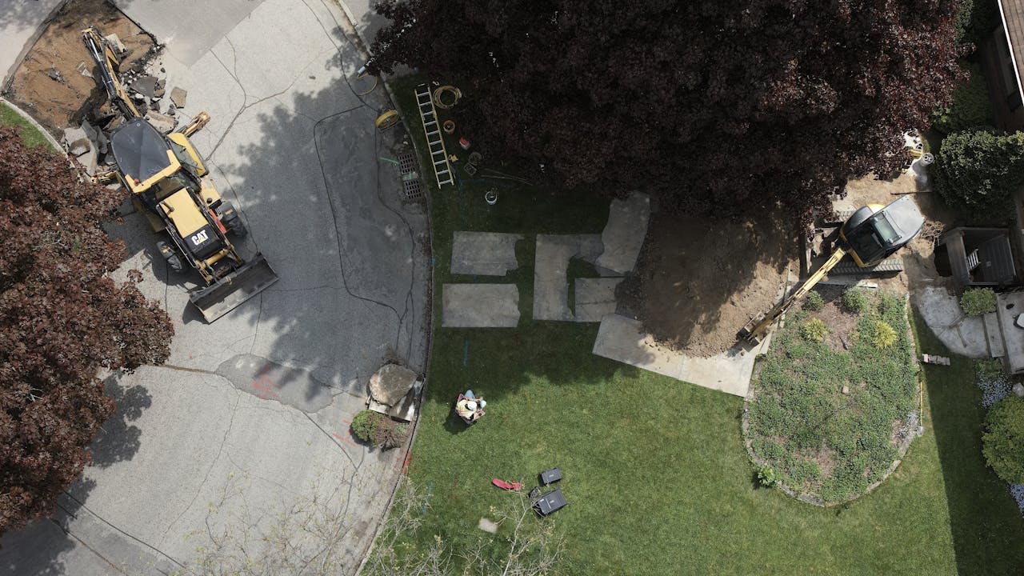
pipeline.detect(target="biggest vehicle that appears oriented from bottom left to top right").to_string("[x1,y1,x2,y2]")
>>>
[728,195,925,360]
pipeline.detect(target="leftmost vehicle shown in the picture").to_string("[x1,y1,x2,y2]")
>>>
[78,24,278,324]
